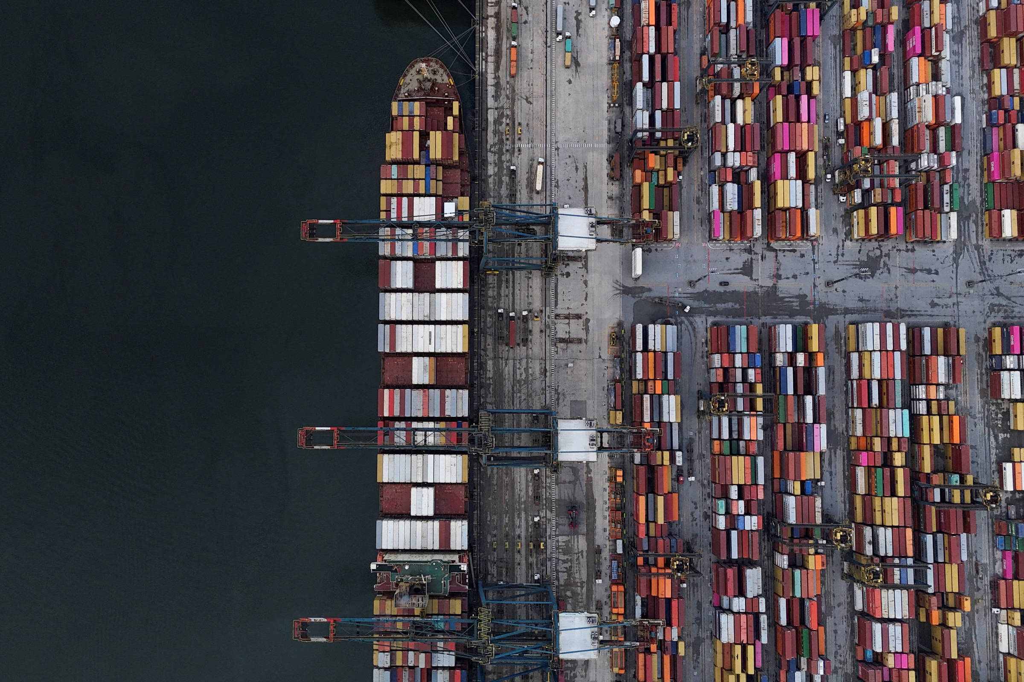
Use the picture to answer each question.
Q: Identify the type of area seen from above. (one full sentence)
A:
This image shows a port.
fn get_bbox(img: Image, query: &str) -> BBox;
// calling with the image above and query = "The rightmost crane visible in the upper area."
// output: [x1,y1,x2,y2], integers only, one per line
[830,153,920,195]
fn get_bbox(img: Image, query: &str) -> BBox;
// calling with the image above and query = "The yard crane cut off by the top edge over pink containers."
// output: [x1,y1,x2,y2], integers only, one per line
[756,0,840,31]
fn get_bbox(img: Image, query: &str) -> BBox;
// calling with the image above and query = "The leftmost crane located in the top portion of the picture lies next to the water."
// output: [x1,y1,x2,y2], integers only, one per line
[297,201,659,283]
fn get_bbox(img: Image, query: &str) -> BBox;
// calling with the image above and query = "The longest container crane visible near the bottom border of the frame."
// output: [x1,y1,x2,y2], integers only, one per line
[291,563,663,666]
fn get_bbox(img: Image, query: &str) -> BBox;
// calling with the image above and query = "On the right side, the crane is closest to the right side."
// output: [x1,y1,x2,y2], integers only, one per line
[904,475,1000,511]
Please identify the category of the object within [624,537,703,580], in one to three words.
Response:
crane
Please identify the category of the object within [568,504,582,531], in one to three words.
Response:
work vehicle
